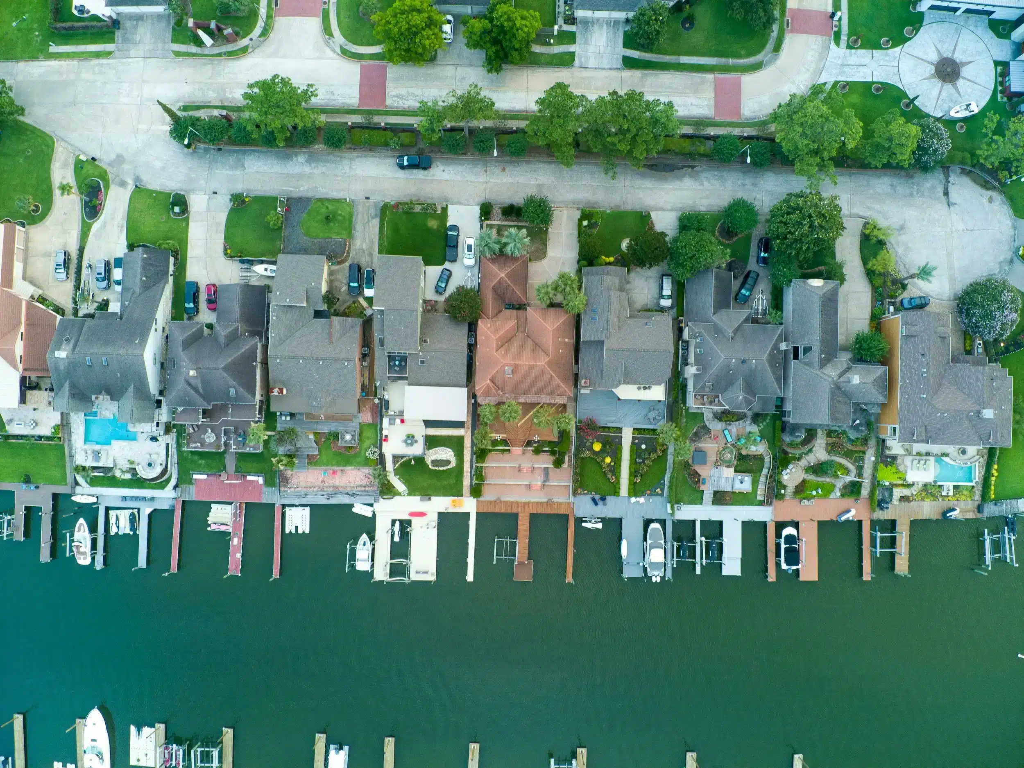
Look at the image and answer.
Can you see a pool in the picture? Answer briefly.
Yes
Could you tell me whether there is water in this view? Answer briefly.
Yes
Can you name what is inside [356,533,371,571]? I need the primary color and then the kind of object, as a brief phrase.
white boat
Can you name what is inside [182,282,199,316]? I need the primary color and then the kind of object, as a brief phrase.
blue vehicle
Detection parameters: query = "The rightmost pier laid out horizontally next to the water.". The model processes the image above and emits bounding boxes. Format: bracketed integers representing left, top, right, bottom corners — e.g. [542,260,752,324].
[983,497,1024,518]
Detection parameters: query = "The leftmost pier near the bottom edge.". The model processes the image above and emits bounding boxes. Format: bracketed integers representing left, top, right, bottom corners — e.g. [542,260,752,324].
[1,714,30,768]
